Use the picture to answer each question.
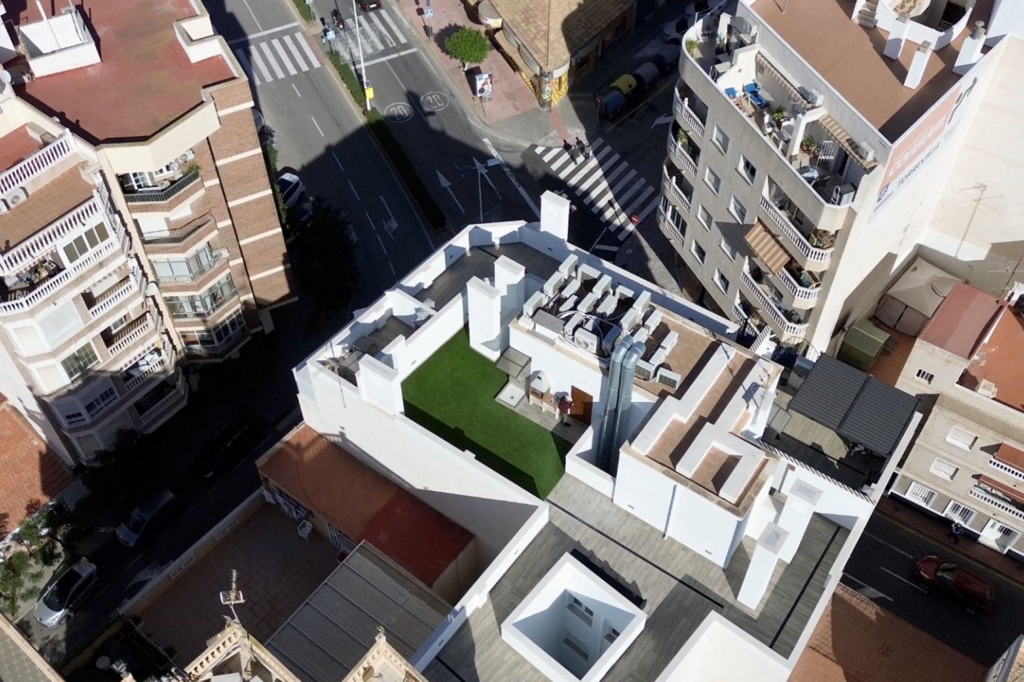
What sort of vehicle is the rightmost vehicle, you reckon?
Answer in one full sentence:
The rightmost vehicle is an automobile.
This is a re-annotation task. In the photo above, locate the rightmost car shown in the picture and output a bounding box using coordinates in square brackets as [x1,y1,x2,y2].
[913,554,1006,616]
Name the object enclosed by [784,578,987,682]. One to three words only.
building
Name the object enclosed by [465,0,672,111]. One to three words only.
building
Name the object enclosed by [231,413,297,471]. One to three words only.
car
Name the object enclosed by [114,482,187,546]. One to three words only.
car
